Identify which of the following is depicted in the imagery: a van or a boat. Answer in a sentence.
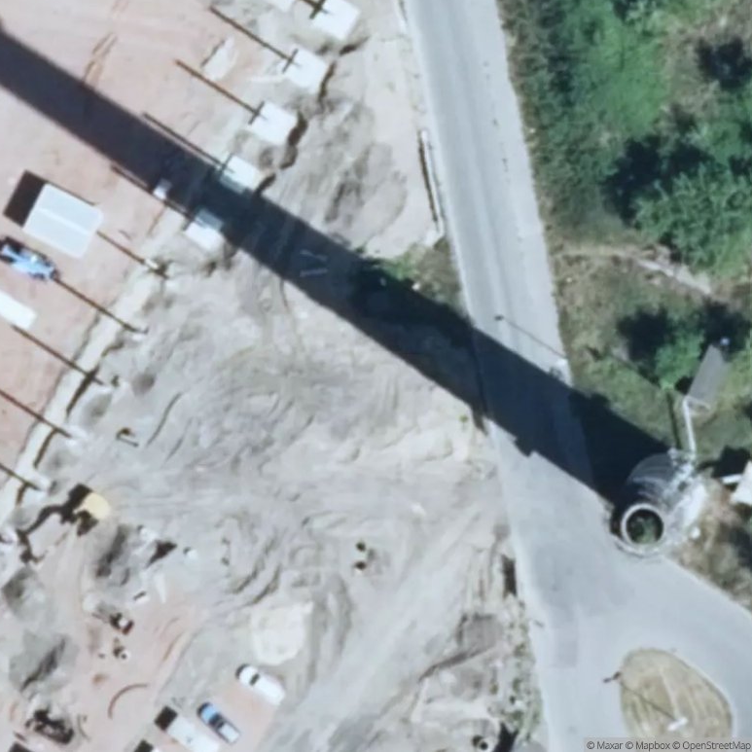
This aerial view contains a van.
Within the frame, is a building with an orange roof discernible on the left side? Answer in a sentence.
No, no building with an orange roof appears on the left side.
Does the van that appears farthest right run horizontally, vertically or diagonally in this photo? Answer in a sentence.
The van that appears farthest right is laid out diagonally.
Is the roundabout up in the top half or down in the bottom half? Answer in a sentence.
The bottom half of the photo is where the roundabout is.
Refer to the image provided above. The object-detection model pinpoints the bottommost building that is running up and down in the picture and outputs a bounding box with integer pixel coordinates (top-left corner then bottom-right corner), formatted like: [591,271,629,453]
[729,461,752,513]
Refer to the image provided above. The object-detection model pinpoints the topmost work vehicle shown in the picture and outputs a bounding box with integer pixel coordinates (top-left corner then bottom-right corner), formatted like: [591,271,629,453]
[0,233,61,282]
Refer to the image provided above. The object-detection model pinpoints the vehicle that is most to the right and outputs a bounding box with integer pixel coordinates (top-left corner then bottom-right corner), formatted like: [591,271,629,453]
[230,659,289,712]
